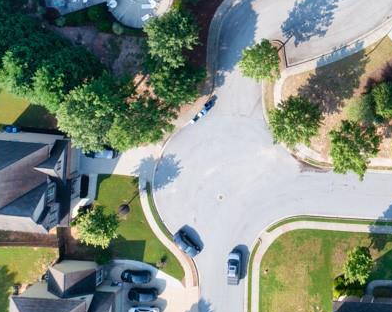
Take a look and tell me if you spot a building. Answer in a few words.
Yes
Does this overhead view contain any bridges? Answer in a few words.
No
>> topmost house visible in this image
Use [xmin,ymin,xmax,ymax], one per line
[0,132,82,251]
